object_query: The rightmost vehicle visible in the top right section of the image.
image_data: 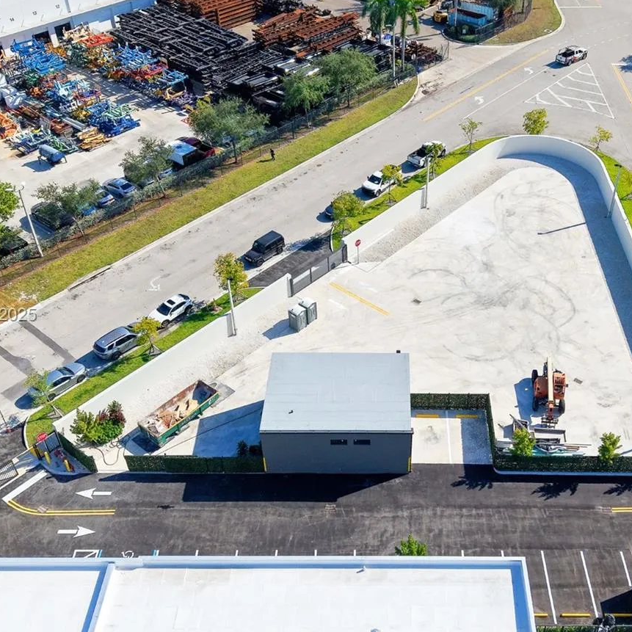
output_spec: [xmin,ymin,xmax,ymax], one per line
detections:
[552,45,590,67]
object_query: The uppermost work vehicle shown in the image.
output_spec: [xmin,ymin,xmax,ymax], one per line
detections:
[426,9,448,29]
